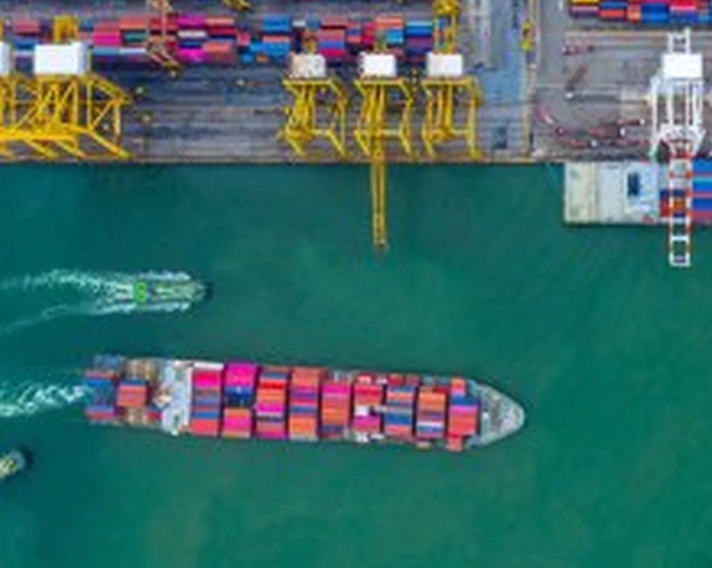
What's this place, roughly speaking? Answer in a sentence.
It's a port.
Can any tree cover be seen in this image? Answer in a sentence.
No, the scene doesn't show any tree cover.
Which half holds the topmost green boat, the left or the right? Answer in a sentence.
You can find the topmost green boat on the left side of the picture.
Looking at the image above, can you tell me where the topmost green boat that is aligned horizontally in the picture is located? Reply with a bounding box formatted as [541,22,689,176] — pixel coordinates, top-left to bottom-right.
[128,279,209,303]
